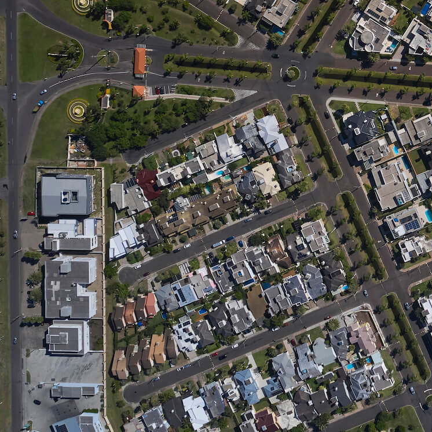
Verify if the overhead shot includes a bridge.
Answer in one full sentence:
No, there appears to be no bridge in this shot.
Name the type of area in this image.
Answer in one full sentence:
This looks like a residential area.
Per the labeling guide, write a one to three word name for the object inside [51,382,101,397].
building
